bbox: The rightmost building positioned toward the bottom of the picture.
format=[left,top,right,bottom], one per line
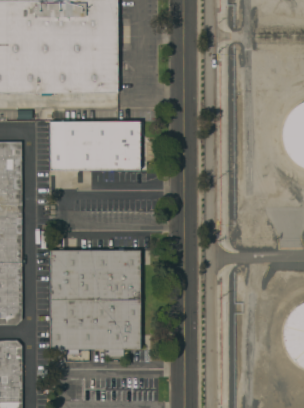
[49,250,140,358]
